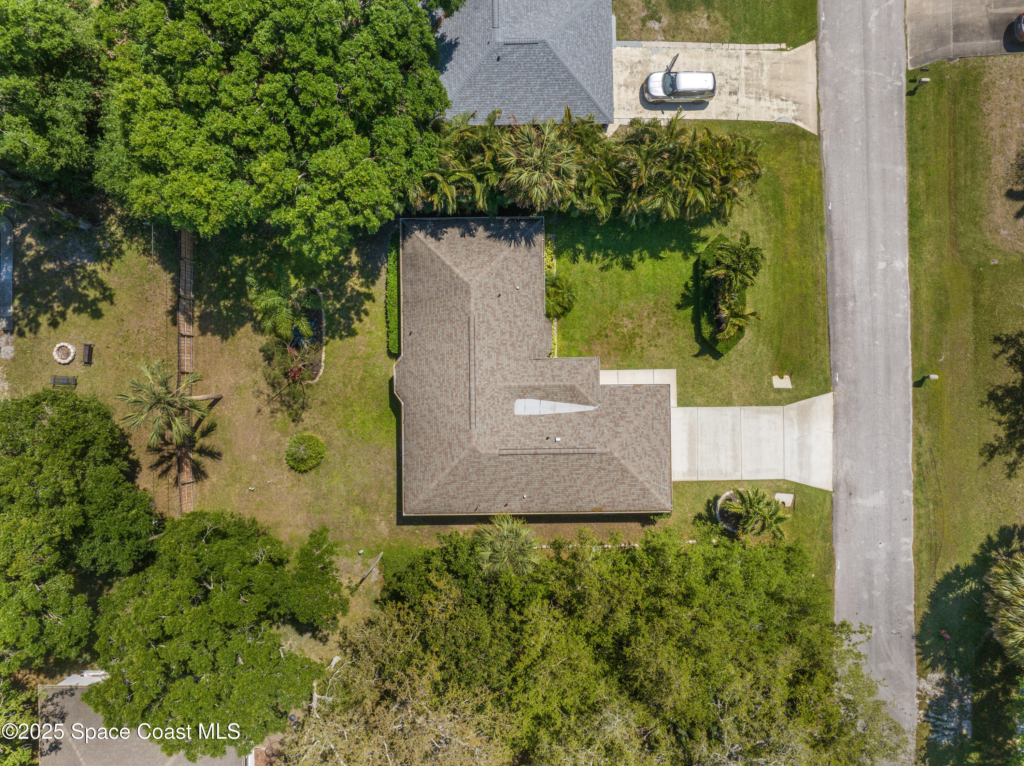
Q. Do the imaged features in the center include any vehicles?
No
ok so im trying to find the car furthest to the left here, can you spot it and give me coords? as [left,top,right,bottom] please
[642,55,717,106]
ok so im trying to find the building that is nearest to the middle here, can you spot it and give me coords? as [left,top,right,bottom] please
[392,214,673,517]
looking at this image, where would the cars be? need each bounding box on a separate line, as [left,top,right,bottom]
[1010,13,1024,48]
[642,55,717,106]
